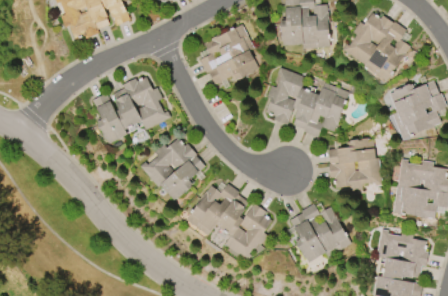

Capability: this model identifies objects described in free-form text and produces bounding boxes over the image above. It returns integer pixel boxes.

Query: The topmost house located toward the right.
[280,0,332,48]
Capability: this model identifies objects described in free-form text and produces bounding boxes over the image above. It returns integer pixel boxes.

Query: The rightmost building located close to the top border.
[342,10,416,86]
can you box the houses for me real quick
[289,202,356,262]
[198,20,260,88]
[138,136,207,204]
[375,232,430,296]
[394,160,448,217]
[342,10,416,86]
[280,0,332,48]
[56,0,132,42]
[390,78,448,141]
[264,64,350,136]
[183,181,275,266]
[92,74,174,146]
[328,138,382,190]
